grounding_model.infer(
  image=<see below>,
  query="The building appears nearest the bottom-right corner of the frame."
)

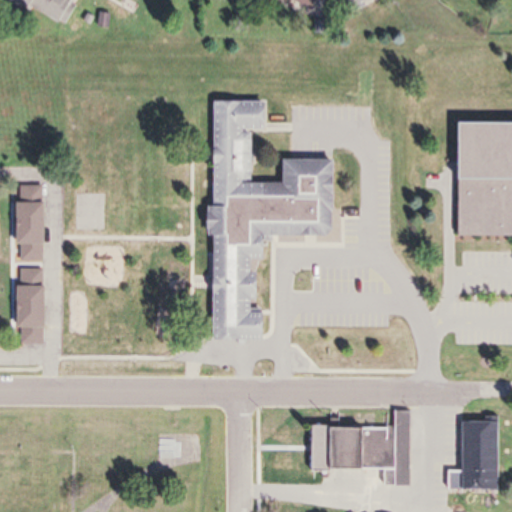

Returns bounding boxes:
[448,420,499,488]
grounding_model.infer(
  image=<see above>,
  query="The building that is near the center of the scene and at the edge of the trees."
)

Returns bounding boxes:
[206,100,334,338]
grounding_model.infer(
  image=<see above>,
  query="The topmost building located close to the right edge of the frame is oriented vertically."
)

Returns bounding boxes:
[458,122,512,235]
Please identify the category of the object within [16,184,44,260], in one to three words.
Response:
building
